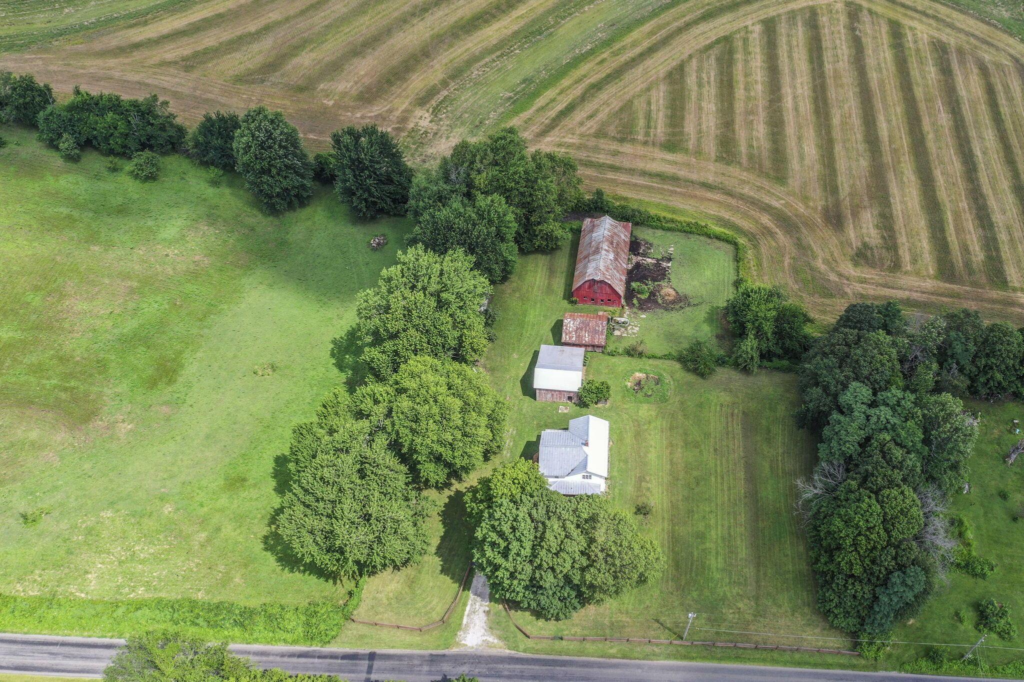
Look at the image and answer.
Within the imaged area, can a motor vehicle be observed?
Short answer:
No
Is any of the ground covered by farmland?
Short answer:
Yes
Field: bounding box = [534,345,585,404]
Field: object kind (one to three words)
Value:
shed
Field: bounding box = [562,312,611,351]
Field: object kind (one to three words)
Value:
shed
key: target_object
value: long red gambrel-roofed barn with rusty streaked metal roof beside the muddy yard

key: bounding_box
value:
[572,215,630,308]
